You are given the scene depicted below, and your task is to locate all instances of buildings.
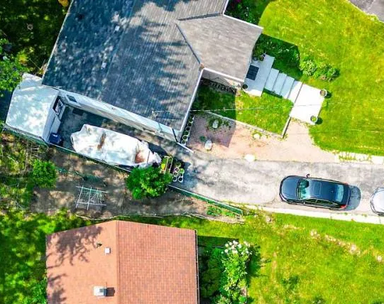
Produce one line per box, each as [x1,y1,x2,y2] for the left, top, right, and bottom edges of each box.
[44,224,200,304]
[40,0,264,141]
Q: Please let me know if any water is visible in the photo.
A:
No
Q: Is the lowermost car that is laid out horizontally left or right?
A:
right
